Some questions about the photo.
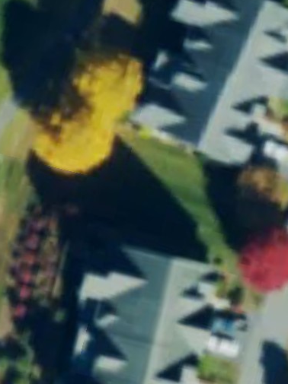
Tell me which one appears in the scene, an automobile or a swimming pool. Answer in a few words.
automobile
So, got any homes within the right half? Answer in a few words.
Yes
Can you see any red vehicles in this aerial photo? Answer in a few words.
No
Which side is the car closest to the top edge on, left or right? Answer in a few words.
right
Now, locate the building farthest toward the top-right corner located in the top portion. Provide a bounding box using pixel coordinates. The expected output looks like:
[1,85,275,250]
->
[134,0,288,170]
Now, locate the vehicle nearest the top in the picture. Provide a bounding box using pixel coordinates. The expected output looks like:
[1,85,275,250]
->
[264,140,288,162]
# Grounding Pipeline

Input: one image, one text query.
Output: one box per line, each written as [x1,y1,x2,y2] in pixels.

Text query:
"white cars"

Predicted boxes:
[264,140,288,162]
[211,338,239,354]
